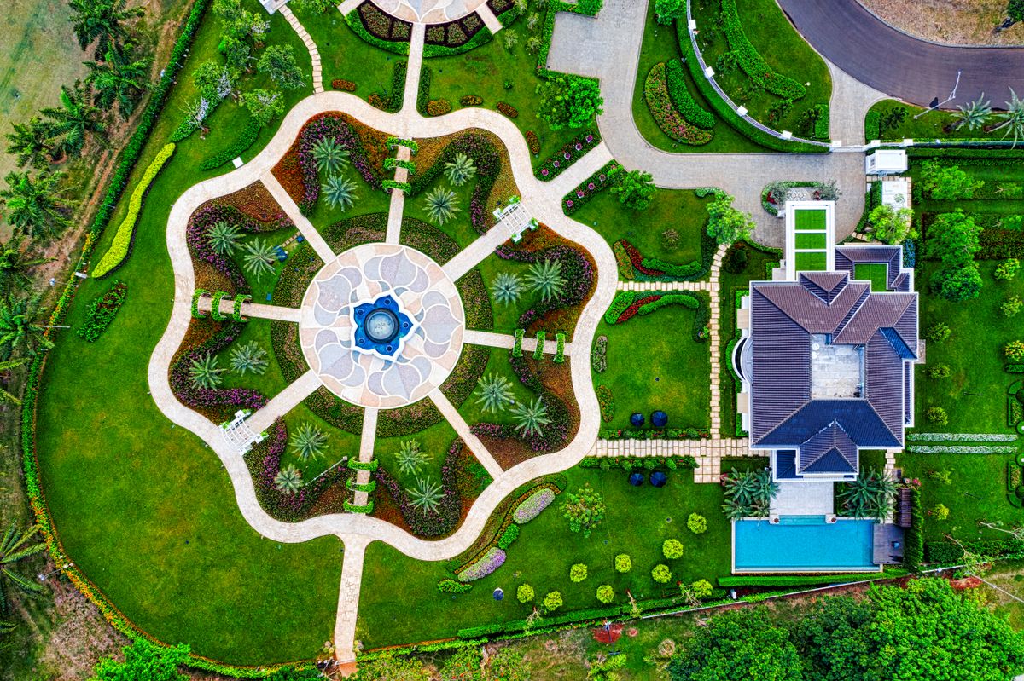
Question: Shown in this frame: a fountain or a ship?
fountain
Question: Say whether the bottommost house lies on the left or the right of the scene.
right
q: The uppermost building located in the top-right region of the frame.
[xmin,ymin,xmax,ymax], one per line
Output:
[866,149,907,180]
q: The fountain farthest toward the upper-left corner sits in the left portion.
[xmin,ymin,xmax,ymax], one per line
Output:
[350,289,420,362]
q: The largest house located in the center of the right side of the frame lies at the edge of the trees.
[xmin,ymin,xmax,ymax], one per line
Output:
[726,201,925,482]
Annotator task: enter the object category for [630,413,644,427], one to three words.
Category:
umbrella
